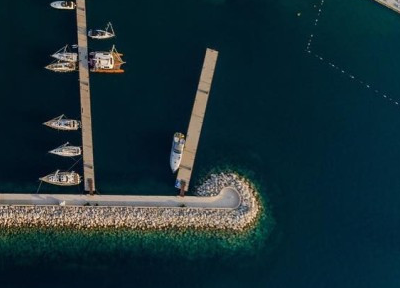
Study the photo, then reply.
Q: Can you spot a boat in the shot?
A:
Yes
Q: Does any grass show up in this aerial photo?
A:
No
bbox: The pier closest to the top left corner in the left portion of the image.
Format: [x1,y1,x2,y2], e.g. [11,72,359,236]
[75,0,95,198]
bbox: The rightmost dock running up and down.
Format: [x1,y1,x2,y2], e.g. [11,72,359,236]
[175,48,218,197]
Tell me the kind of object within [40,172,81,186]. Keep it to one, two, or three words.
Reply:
boat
